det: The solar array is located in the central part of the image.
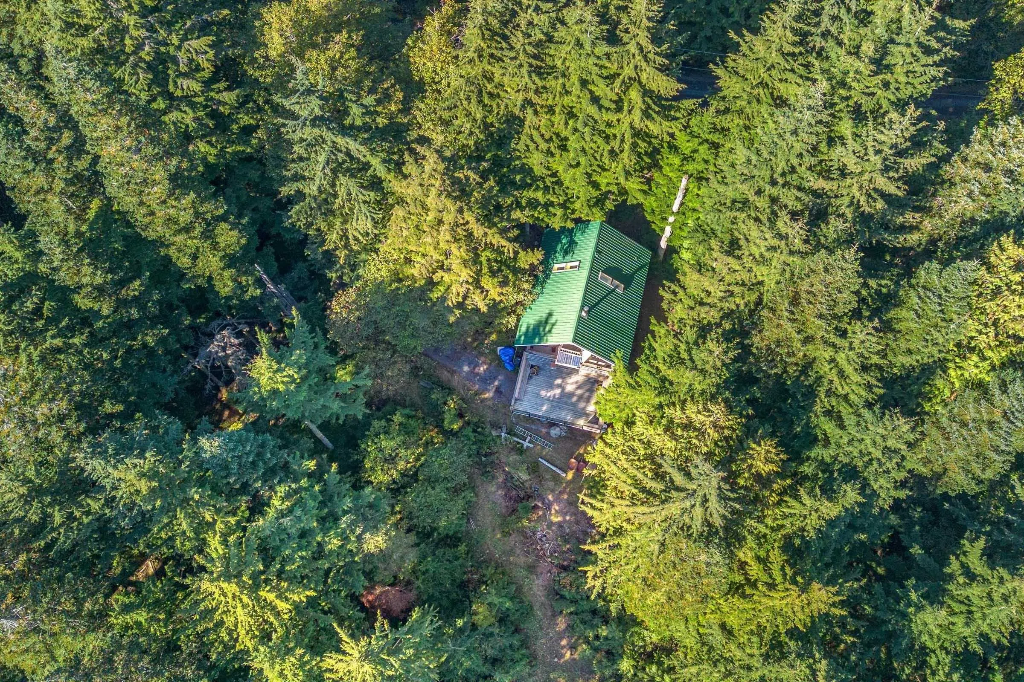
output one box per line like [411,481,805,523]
[555,345,583,369]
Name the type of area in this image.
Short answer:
forest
